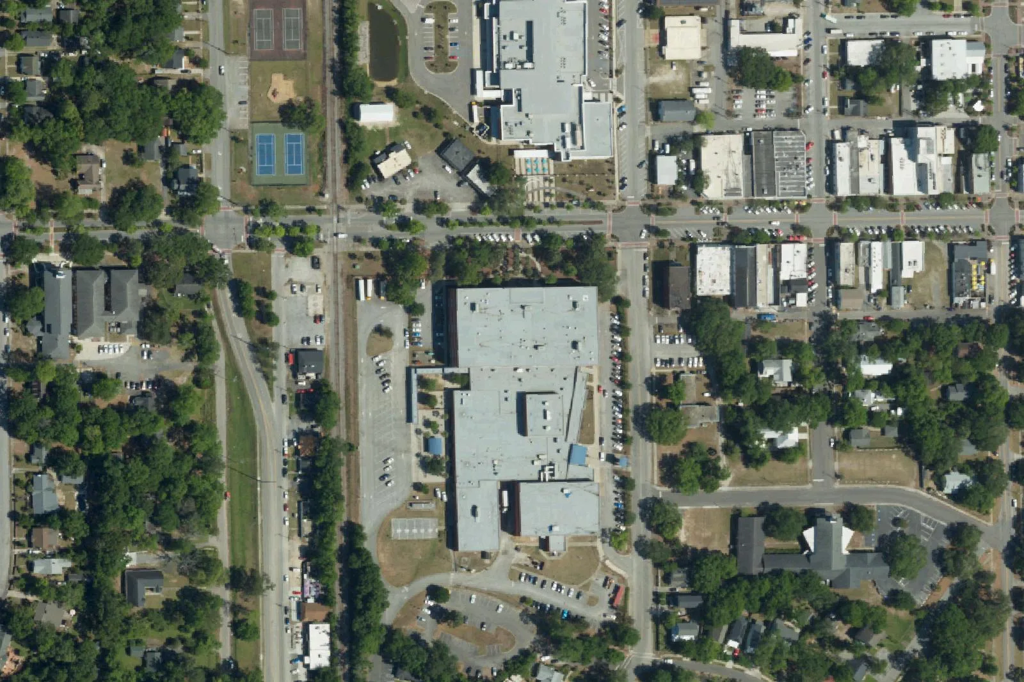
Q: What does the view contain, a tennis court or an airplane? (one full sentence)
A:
It is a tennis court that can be seen here.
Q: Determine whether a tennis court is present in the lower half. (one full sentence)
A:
No, I see no tennis court in the lower half.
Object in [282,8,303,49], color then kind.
gray tennis court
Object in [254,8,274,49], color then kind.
gray tennis court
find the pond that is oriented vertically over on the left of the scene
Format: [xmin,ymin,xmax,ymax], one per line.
[369,3,399,80]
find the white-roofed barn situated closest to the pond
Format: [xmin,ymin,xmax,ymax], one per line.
[358,103,396,122]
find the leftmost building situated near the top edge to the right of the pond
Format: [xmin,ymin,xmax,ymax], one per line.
[474,0,613,161]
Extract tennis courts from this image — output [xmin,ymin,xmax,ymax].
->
[282,8,303,49]
[254,8,274,49]
[285,133,304,174]
[256,133,276,174]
